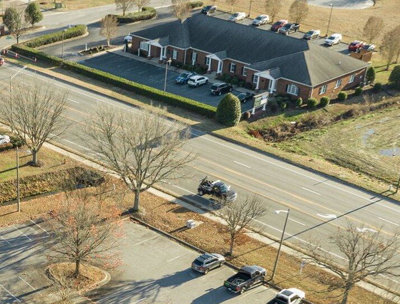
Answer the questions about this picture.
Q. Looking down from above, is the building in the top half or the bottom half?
top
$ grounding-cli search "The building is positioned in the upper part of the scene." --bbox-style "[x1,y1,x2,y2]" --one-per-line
[129,11,372,104]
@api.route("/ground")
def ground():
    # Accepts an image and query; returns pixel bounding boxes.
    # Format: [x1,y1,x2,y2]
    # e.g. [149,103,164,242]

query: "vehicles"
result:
[185,74,208,87]
[173,73,192,84]
[236,91,254,102]
[361,41,378,51]
[346,39,364,50]
[222,266,267,293]
[278,20,301,32]
[264,288,308,304]
[118,35,131,45]
[193,171,236,202]
[189,253,225,274]
[324,32,343,45]
[199,3,217,13]
[227,11,245,20]
[251,12,270,25]
[303,28,320,39]
[269,20,286,30]
[207,80,232,95]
